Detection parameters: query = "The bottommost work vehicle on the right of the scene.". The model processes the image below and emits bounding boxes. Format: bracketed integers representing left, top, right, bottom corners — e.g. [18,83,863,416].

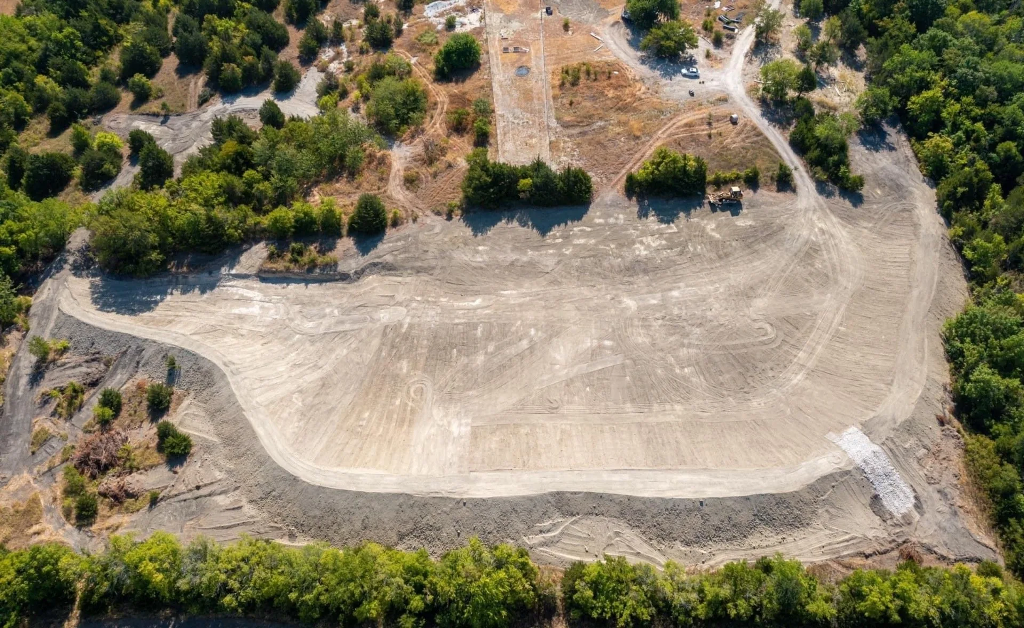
[708,187,739,208]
